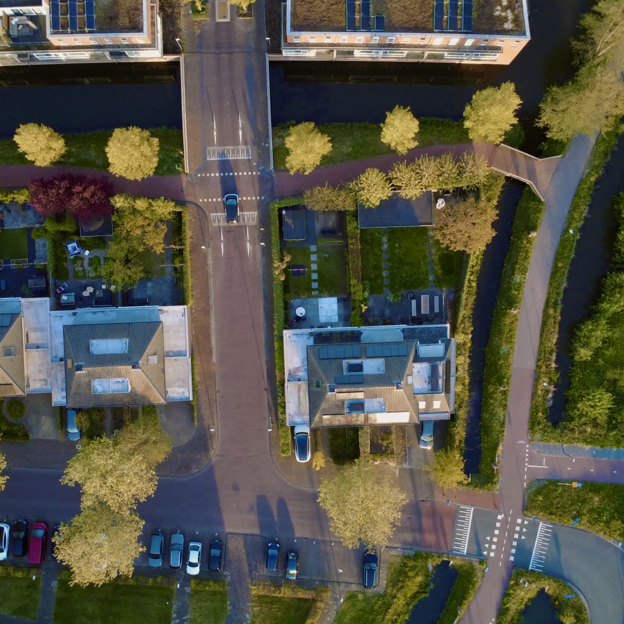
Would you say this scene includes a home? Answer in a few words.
Yes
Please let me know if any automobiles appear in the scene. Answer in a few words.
Yes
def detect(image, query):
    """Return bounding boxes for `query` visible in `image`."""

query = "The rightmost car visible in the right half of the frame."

[417,421,435,452]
